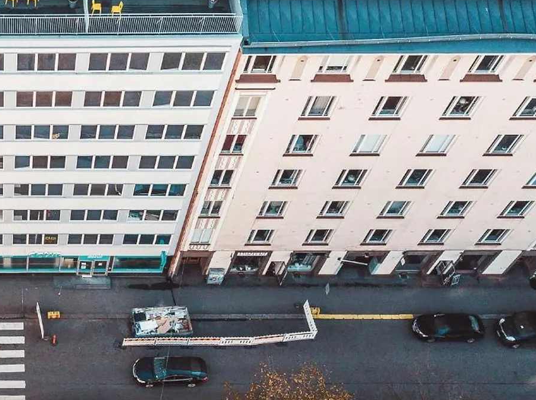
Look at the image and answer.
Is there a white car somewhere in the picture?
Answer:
No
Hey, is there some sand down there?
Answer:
No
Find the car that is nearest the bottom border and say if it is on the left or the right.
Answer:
left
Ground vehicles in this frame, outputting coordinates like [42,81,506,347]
[492,310,536,347]
[132,351,209,386]
[411,308,489,341]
